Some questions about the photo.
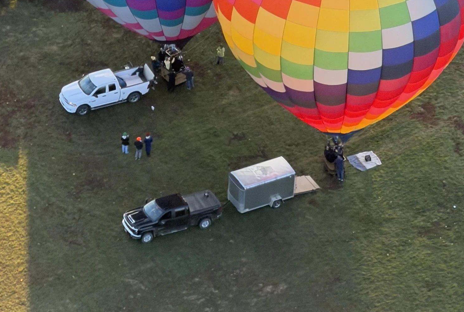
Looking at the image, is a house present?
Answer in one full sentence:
No, the frame has no house in it.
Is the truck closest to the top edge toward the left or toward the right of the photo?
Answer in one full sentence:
It is on the left.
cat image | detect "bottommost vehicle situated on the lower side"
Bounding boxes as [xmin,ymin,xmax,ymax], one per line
[124,191,225,243]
